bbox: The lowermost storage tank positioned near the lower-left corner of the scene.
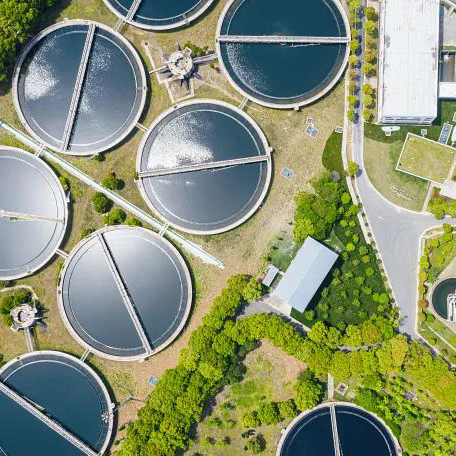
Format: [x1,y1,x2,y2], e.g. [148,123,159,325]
[0,351,116,456]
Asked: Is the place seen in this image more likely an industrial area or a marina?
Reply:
industrial area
